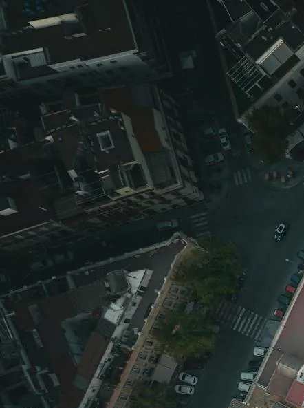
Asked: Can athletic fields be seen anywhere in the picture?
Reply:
No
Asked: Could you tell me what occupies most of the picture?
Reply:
buildings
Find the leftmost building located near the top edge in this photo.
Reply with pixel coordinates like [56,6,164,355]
[0,0,174,108]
